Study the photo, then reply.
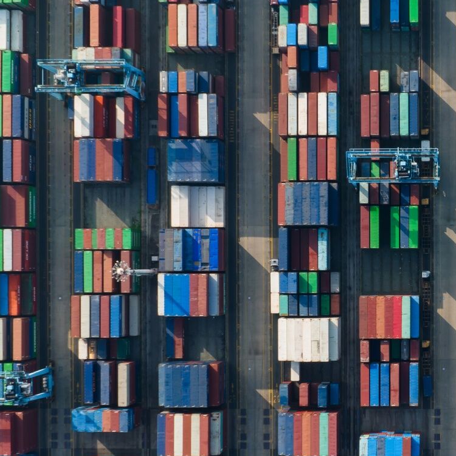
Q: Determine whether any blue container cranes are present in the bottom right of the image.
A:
No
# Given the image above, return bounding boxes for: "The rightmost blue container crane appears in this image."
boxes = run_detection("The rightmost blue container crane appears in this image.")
[344,150,444,191]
